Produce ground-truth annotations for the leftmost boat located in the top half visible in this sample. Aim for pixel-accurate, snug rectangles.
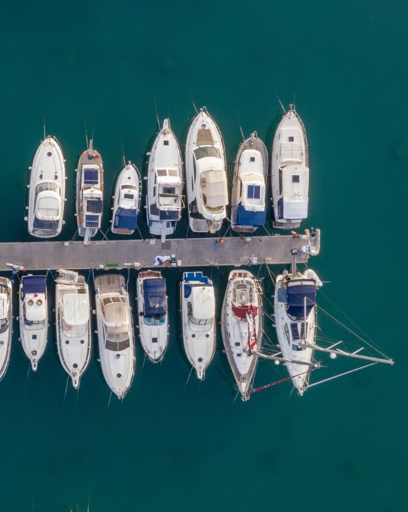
[28,134,67,238]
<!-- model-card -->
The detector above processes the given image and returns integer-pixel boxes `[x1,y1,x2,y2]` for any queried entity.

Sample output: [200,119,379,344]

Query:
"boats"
[92,275,135,403]
[219,272,340,403]
[0,279,12,380]
[183,106,228,233]
[267,106,310,228]
[306,228,321,257]
[301,264,327,296]
[227,130,271,231]
[143,118,183,242]
[28,134,67,238]
[57,269,82,286]
[74,140,105,245]
[135,270,170,366]
[54,278,92,390]
[110,160,142,234]
[178,272,217,381]
[272,254,397,398]
[19,275,48,372]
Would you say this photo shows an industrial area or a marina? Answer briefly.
marina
